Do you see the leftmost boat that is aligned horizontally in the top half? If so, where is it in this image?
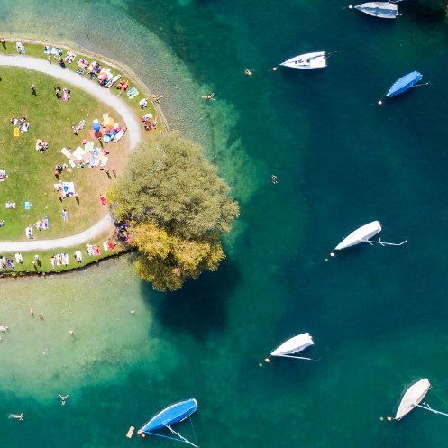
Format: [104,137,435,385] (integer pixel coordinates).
[280,52,339,70]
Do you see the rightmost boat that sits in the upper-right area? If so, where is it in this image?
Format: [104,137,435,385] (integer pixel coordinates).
[386,68,429,95]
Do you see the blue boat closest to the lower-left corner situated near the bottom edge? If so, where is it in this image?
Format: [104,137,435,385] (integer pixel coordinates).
[142,396,204,442]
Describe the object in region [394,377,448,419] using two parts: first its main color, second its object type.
white boat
